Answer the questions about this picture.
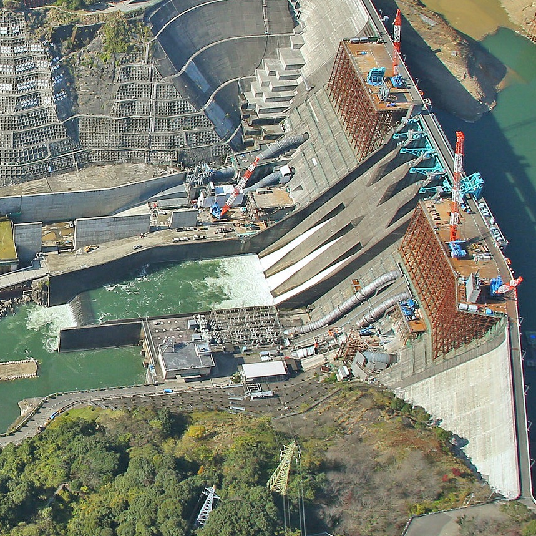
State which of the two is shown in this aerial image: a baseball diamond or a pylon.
pylon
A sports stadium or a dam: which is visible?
dam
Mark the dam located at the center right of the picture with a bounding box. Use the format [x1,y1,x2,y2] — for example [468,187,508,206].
[248,0,535,500]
